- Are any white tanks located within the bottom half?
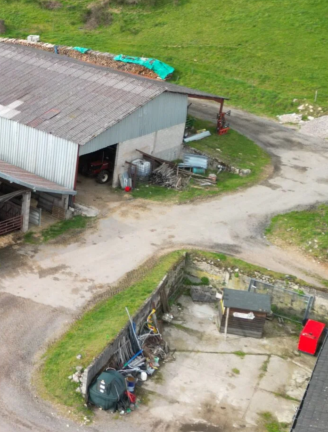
No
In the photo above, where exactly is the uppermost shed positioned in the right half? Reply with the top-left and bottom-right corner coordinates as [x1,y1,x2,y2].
[218,289,270,338]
